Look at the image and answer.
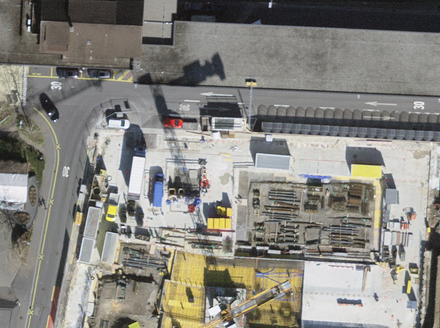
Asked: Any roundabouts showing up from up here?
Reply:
No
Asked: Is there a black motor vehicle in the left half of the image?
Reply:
Yes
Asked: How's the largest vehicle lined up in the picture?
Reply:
up and down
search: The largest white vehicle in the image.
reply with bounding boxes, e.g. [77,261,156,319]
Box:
[126,145,147,202]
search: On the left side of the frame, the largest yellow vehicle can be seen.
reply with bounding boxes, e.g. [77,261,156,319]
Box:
[104,204,118,223]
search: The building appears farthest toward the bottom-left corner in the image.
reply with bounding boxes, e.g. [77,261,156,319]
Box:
[75,236,94,264]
